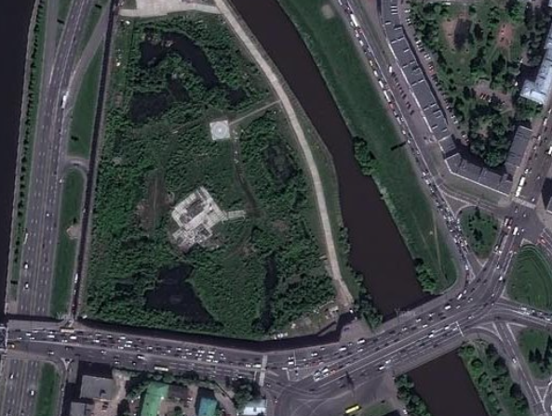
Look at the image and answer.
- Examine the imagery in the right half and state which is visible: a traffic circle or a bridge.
bridge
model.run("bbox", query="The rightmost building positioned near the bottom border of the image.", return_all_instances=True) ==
[243,400,266,416]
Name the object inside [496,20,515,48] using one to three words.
playground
